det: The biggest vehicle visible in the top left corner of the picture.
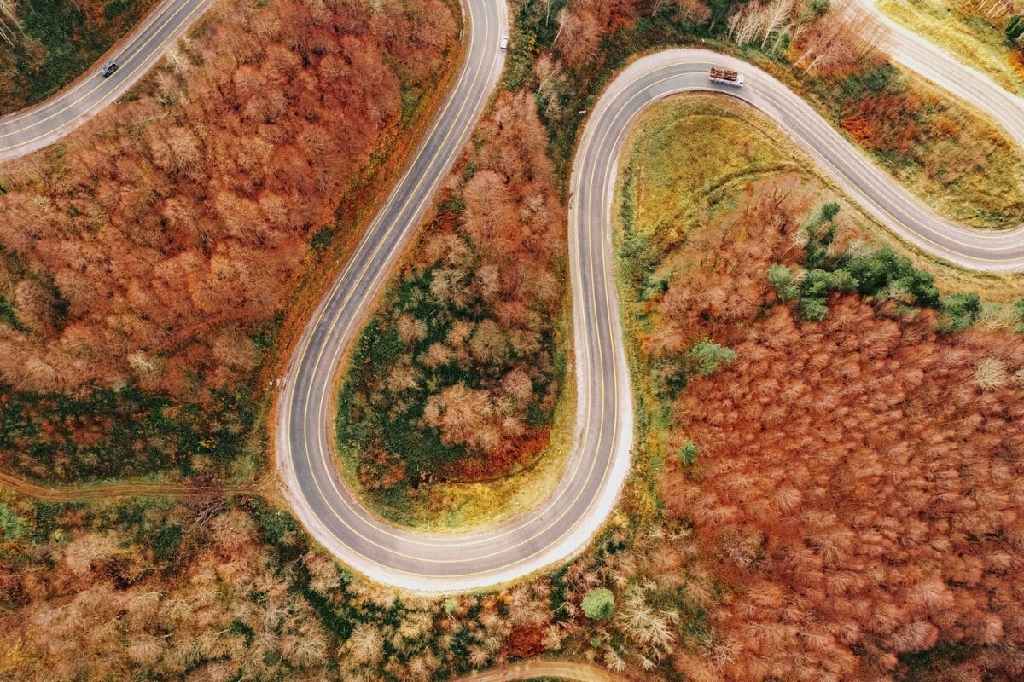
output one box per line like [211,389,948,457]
[101,60,118,76]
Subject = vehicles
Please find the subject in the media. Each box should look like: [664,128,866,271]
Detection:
[500,36,508,50]
[101,60,118,76]
[709,69,744,87]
